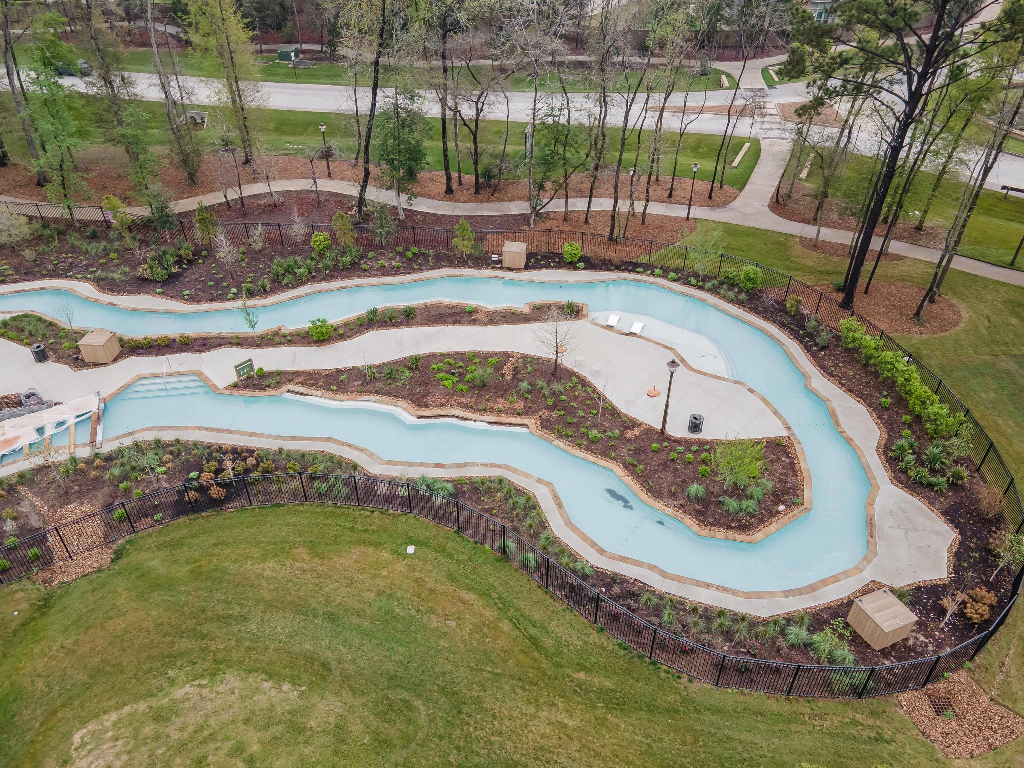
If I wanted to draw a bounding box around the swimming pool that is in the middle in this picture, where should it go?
[0,274,881,599]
